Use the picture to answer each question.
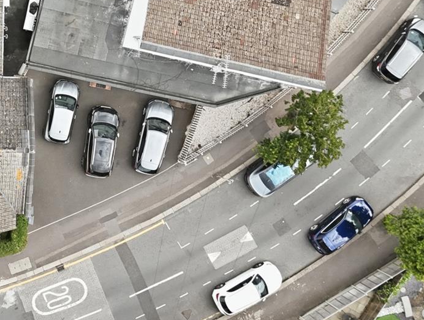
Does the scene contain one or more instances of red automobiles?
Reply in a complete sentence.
No, this view has no red automobile in it.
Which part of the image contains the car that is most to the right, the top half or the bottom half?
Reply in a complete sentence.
The car that is most to the right is in the top half of the image.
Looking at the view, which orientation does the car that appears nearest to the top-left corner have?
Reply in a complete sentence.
The car that appears nearest to the top-left corner is laid out up and down.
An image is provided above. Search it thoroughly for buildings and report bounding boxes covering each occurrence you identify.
[24,0,331,108]
[0,0,37,230]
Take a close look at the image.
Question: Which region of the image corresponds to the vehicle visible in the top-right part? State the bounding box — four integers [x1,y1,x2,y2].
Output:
[371,18,424,85]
